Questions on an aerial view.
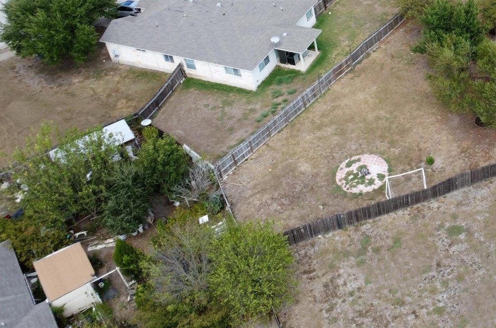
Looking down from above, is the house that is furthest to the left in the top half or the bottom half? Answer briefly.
bottom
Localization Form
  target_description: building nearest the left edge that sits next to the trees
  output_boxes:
[0,220,59,328]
